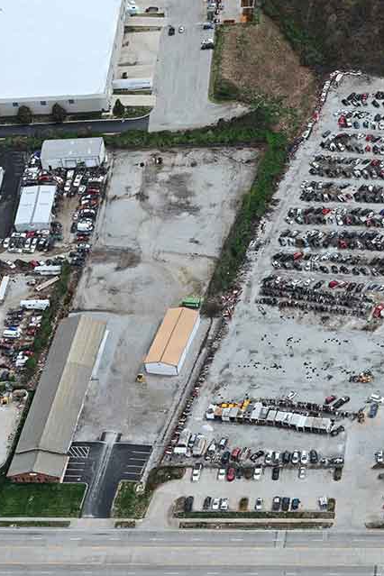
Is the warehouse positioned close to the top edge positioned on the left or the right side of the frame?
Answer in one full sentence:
You can find the warehouse positioned close to the top edge on the left side of the picture.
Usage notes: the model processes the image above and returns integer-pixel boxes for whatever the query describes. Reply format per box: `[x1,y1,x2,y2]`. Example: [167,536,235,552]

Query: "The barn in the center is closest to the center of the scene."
[144,305,200,375]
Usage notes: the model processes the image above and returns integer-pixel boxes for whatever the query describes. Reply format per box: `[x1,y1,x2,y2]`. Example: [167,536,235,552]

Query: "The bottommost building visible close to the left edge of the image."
[9,312,110,488]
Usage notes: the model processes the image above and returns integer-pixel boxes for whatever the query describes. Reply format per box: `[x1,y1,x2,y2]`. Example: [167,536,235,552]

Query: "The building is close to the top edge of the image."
[0,0,130,115]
